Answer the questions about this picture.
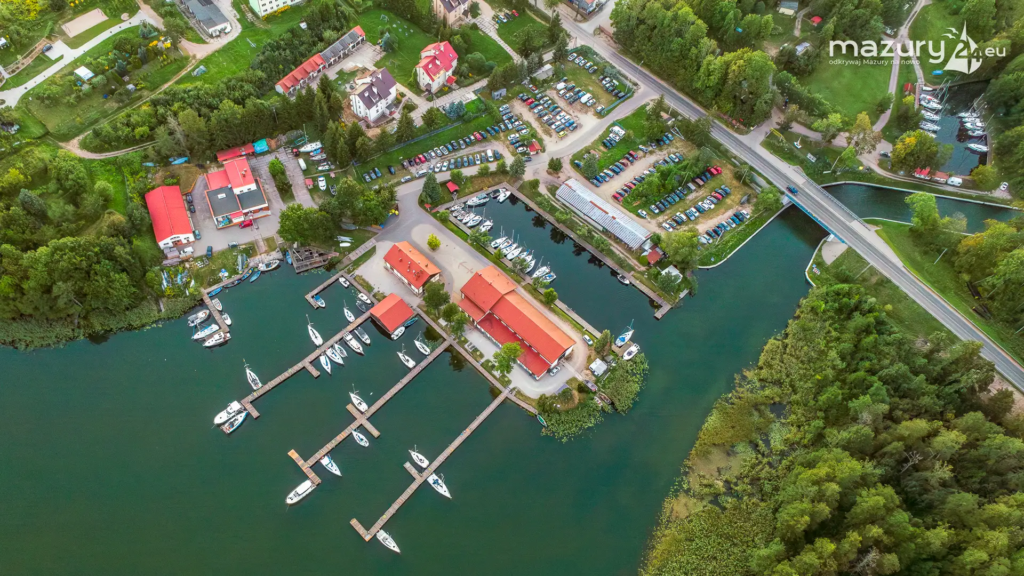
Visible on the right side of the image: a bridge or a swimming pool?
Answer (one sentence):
Visible on the right side of the image is a bridge.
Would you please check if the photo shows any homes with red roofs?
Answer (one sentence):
Yes, the photo shows a home with a red roof.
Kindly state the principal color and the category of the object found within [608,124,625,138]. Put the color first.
white camper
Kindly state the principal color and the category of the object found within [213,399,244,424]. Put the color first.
white boat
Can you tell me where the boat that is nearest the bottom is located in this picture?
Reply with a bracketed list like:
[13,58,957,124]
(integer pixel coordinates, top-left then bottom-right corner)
[374,529,401,554]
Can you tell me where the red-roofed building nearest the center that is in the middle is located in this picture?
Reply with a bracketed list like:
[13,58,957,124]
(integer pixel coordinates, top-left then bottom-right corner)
[457,266,575,380]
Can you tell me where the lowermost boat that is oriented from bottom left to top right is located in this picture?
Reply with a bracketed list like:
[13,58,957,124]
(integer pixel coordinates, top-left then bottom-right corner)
[285,477,315,503]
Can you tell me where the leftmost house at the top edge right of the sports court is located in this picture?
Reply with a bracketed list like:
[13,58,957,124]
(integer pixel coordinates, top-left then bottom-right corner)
[184,0,231,37]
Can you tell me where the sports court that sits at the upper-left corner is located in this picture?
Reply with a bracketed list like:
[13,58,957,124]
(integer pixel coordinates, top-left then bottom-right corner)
[62,7,108,37]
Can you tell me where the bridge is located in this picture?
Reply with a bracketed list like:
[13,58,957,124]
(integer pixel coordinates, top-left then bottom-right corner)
[780,166,872,243]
